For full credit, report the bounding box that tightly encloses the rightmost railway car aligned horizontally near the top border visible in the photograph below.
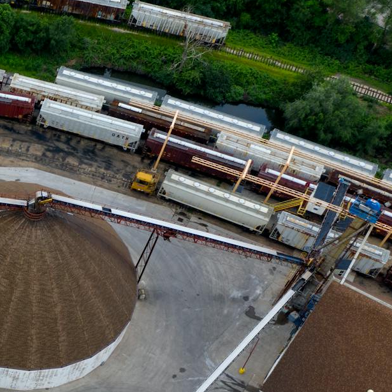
[125,1,227,47]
